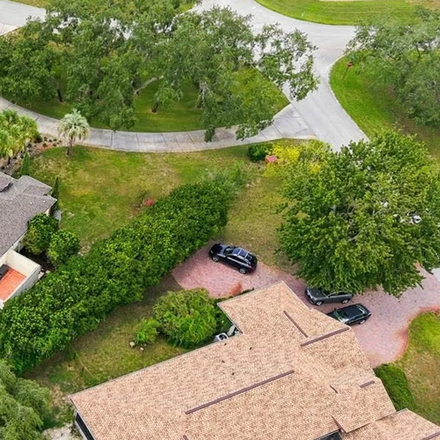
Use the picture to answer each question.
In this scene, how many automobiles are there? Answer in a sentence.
The photo contains 3 automobiles.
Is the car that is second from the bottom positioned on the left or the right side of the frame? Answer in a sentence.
The car that is second from the bottom is on the right side of the image.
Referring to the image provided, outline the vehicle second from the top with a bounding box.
[305,282,355,305]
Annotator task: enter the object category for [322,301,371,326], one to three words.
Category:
car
